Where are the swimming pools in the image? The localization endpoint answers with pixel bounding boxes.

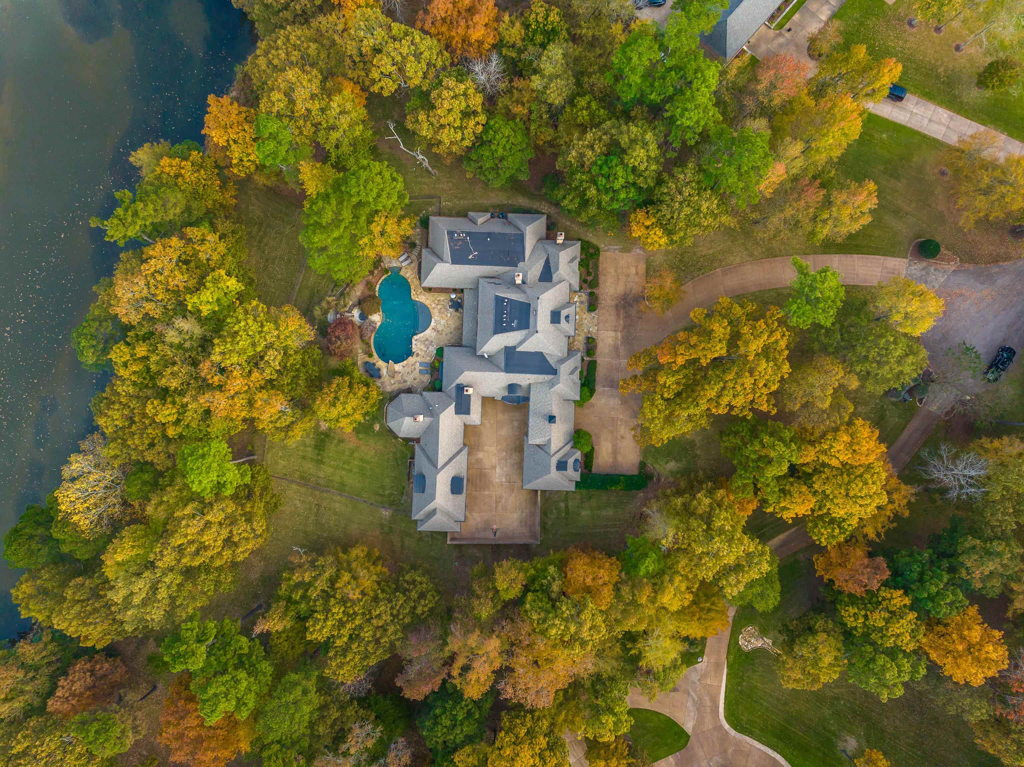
[373,273,432,364]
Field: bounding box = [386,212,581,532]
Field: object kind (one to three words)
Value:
house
